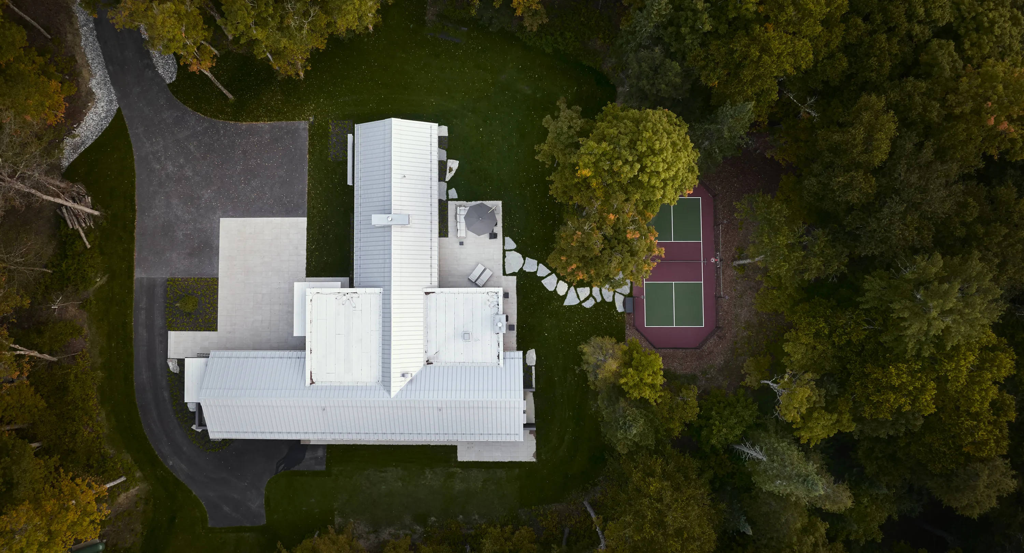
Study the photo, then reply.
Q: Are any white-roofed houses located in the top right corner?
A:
No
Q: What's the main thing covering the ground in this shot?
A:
trees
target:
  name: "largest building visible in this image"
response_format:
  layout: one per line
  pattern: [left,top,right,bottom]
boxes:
[185,117,524,441]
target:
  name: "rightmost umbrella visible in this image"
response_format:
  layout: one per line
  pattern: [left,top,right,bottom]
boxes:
[464,202,500,236]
